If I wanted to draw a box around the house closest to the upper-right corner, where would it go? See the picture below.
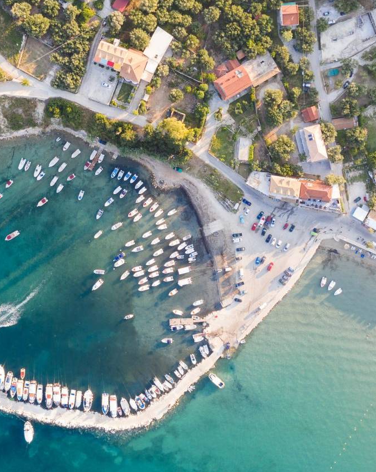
[279,2,298,27]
